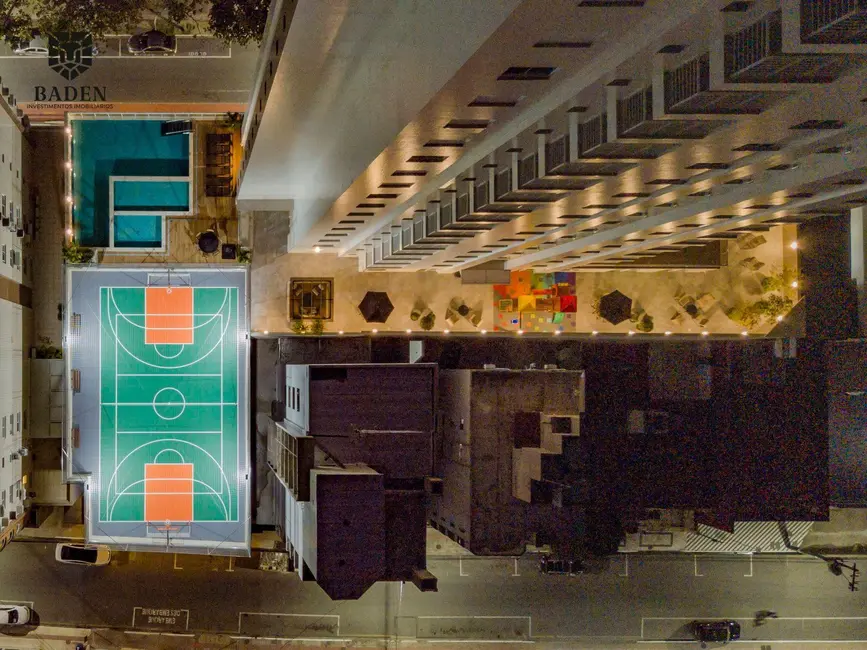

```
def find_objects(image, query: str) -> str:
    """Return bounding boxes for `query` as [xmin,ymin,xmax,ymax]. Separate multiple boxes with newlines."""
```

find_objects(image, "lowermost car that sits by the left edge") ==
[0,602,31,628]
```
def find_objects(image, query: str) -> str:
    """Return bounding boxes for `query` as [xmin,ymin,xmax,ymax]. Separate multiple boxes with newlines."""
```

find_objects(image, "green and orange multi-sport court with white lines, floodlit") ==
[69,267,246,546]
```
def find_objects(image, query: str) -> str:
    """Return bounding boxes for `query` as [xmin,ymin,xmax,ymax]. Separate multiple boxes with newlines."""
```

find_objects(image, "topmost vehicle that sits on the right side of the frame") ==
[538,554,585,578]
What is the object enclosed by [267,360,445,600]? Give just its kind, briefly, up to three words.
house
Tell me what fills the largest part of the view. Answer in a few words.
buildings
